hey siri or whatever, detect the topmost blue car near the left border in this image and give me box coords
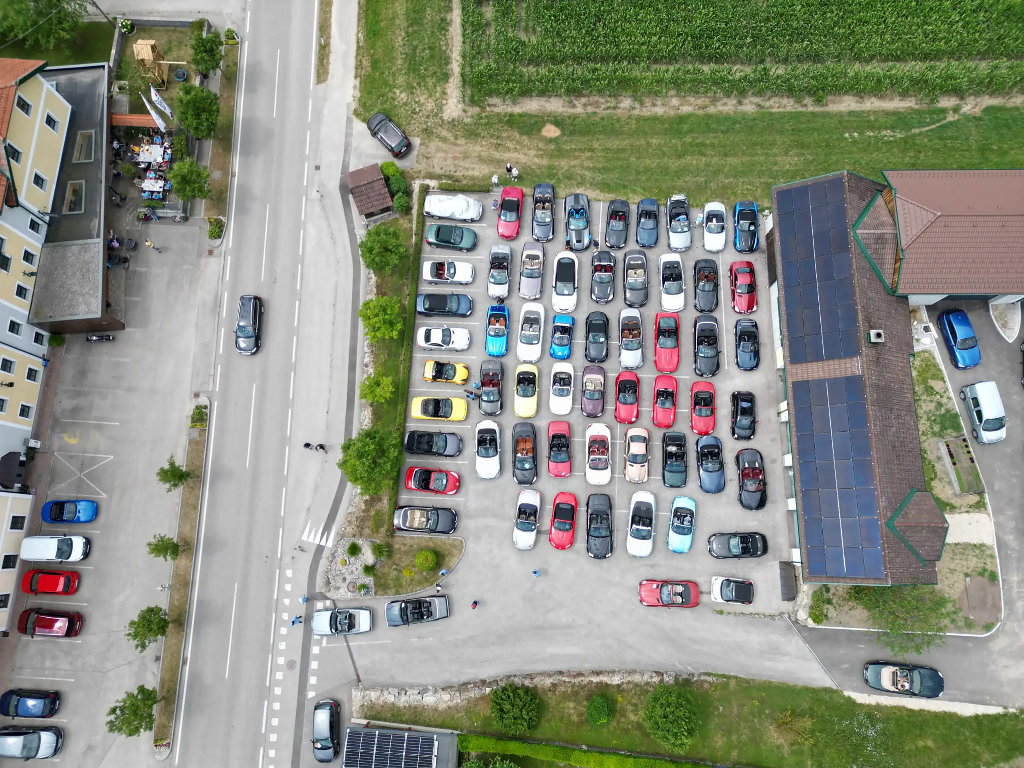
[40,496,100,526]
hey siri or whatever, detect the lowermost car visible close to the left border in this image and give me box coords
[0,726,65,765]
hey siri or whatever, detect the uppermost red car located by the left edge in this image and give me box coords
[21,570,81,602]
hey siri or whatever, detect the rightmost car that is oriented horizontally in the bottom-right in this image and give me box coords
[863,661,944,701]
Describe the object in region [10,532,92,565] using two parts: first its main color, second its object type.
white van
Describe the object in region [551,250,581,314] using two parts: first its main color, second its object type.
white car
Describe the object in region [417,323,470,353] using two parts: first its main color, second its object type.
white car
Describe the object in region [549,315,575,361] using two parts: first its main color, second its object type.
blue car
